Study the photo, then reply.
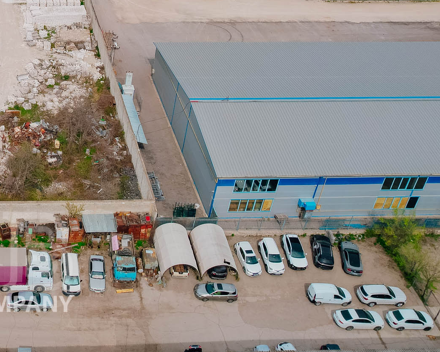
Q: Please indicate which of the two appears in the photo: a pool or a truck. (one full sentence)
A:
It is a truck that can be seen here.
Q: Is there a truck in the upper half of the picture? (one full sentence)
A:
No, no truck appears in the upper half of the picture.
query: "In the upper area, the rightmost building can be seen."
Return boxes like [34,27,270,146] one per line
[152,42,440,222]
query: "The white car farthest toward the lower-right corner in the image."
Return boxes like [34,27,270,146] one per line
[381,309,439,335]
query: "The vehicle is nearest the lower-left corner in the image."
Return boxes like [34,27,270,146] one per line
[6,290,54,313]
